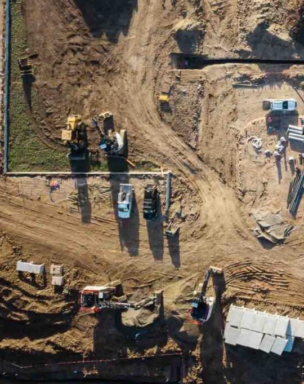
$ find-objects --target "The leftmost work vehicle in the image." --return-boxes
[64,110,95,160]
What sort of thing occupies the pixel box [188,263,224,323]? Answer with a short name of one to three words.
work vehicle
